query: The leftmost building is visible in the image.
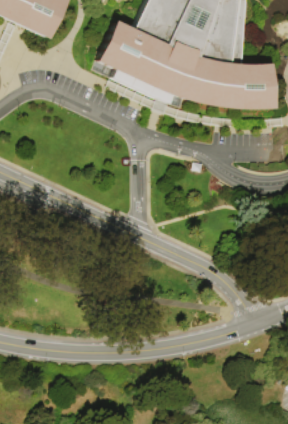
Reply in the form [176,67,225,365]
[0,0,68,38]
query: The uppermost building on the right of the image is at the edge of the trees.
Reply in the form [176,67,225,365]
[92,0,278,109]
